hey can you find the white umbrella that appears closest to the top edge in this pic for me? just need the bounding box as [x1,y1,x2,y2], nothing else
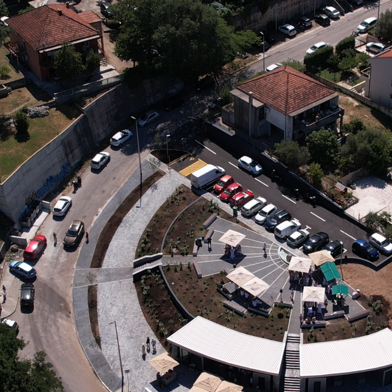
[219,230,247,252]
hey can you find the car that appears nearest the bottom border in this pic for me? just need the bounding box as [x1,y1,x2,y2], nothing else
[0,314,22,330]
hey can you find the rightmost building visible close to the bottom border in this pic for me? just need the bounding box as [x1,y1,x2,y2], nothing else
[298,328,392,392]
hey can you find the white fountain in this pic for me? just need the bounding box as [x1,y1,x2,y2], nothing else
[277,244,302,264]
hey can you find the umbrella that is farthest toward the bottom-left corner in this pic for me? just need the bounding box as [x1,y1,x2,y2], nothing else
[149,352,179,378]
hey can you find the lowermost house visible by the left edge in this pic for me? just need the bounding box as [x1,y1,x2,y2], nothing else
[4,1,101,81]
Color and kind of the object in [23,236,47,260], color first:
red car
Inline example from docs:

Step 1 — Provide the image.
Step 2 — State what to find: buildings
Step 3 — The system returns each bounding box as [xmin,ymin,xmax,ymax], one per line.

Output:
[368,45,392,107]
[166,316,285,392]
[230,64,330,135]
[298,328,392,392]
[4,1,101,81]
